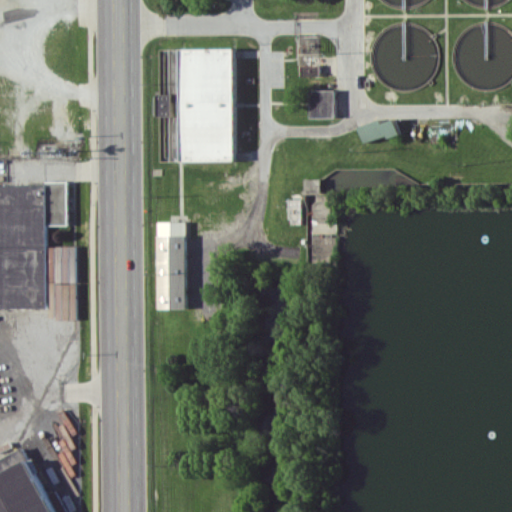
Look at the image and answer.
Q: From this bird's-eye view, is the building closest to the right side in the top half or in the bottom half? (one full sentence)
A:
Seen from above, the building closest to the right side lies in the top half of the view.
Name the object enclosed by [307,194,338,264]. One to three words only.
building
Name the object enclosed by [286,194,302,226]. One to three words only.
house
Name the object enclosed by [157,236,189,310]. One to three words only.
shed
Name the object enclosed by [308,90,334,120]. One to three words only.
building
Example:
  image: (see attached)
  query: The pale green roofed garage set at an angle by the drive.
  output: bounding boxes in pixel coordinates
[357,120,400,144]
